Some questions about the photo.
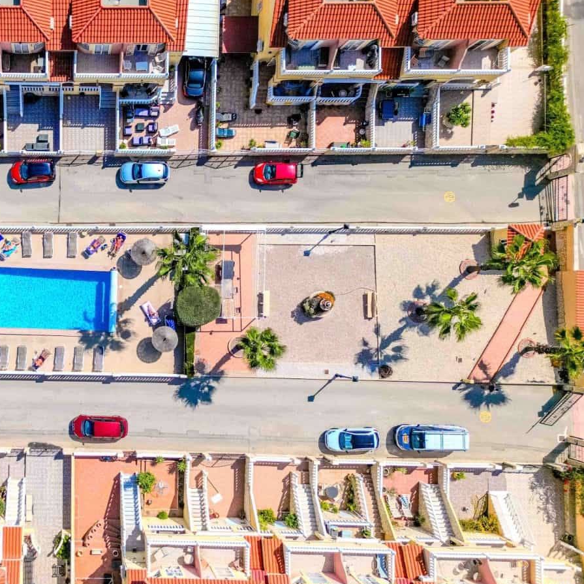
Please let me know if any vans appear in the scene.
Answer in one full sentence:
Yes, I can see a van in this picture.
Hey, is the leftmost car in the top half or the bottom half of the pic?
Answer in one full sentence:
Seen from above, the leftmost car lies in the top half of the view.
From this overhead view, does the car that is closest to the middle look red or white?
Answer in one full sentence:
The color of the car that is closest to the middle is red.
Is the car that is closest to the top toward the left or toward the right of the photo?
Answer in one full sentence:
The car that is closest to the top sits on the left side.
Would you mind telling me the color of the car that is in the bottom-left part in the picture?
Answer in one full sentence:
In this view, the car that is in the bottom-left part is red.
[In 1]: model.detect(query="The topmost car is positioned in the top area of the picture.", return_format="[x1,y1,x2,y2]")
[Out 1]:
[179,56,208,111]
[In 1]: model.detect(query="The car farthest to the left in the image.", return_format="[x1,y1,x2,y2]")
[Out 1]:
[9,158,56,184]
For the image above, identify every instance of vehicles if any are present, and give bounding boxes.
[326,426,382,454]
[255,160,310,187]
[397,423,478,454]
[118,159,171,188]
[179,56,208,111]
[9,158,56,184]
[71,415,128,443]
